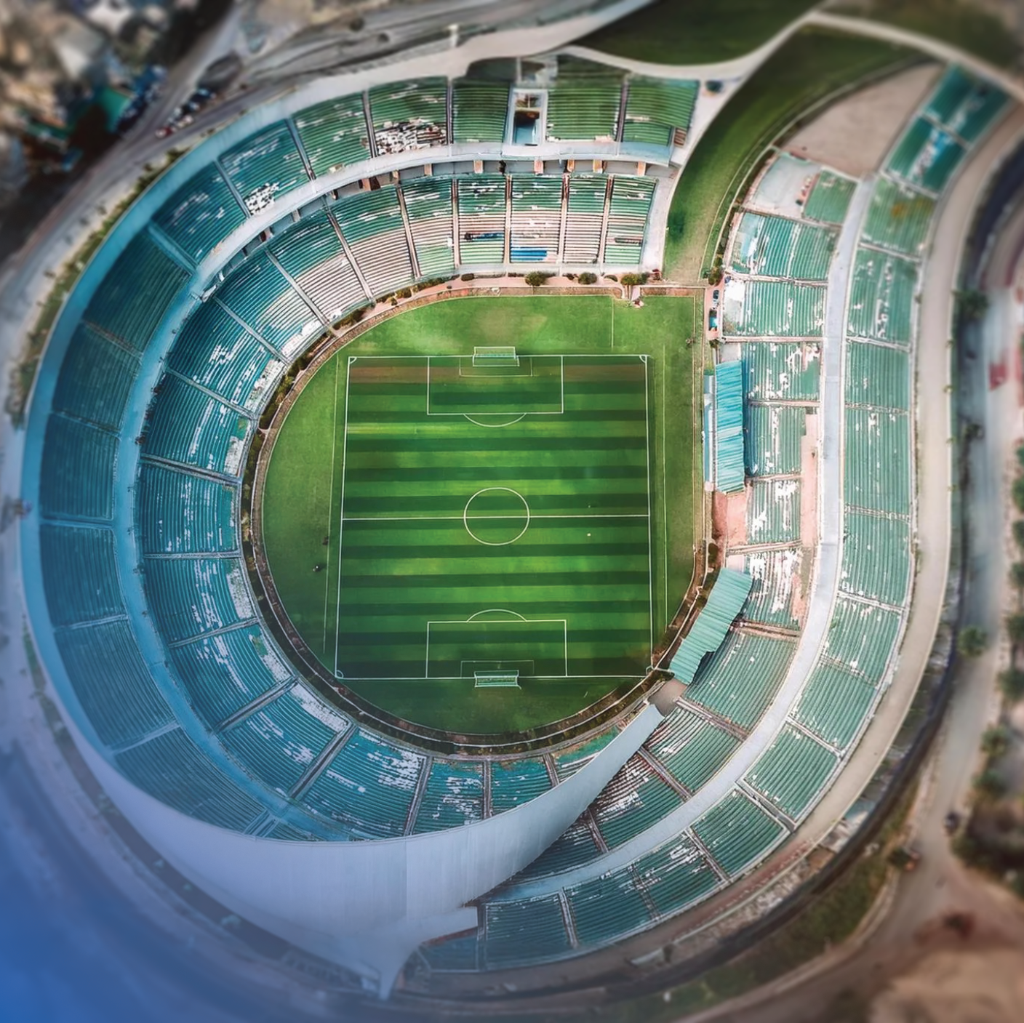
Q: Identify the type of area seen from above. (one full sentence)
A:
It's a sports ground.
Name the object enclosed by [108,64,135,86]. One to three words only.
house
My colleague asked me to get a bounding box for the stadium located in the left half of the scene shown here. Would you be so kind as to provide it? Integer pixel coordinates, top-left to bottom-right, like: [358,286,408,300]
[18,56,702,843]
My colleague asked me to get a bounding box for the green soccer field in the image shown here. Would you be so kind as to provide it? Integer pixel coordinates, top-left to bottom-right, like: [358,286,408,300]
[323,295,666,679]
